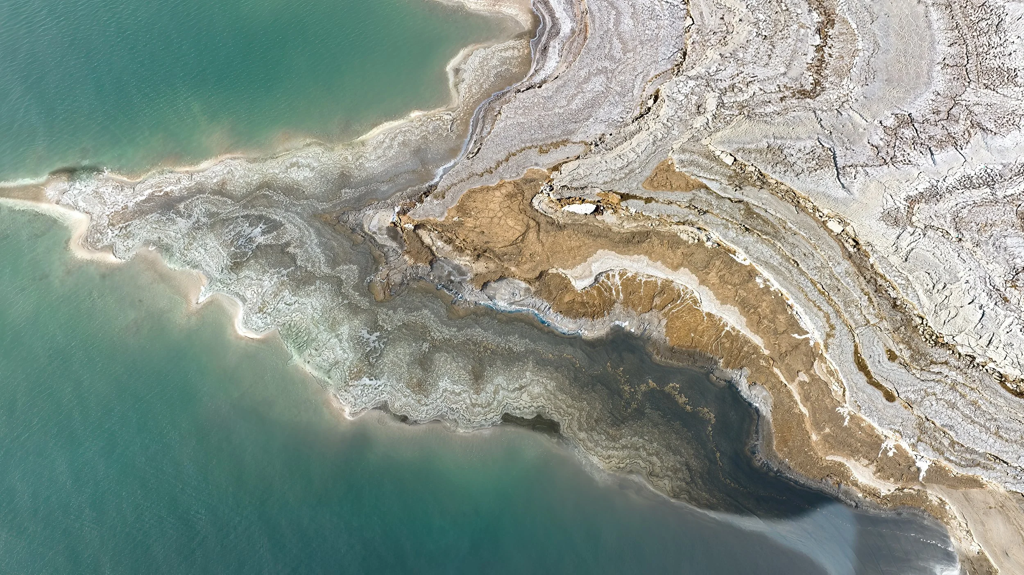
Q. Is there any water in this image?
Yes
